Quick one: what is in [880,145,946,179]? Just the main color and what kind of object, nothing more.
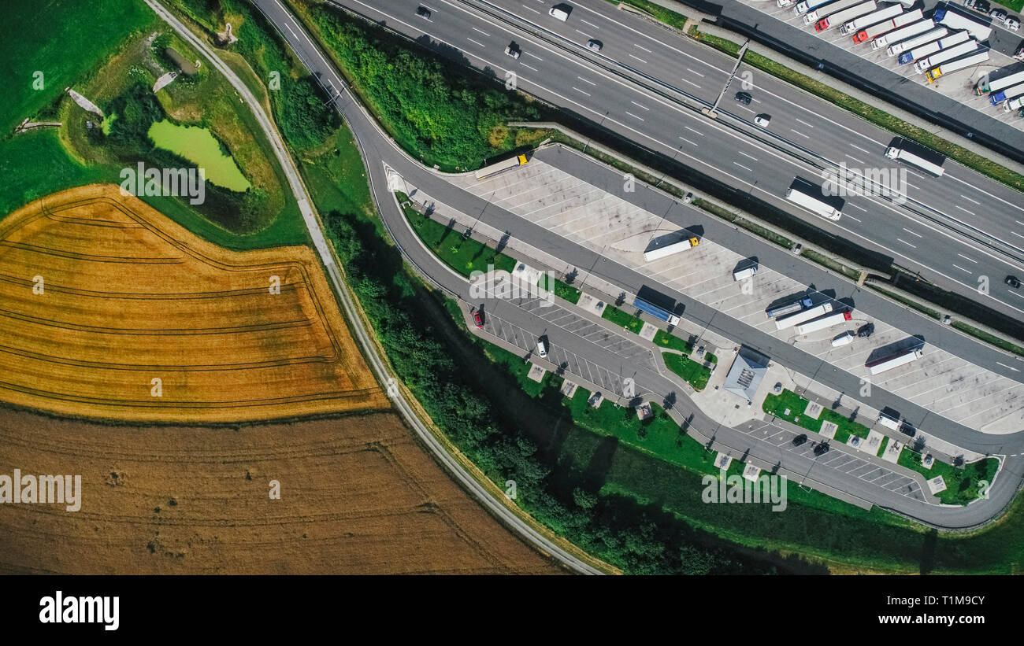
white truck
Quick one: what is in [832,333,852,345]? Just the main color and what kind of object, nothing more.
white vehicle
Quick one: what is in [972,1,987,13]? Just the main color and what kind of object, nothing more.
black vehicle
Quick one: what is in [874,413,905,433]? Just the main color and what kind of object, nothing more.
white vehicle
